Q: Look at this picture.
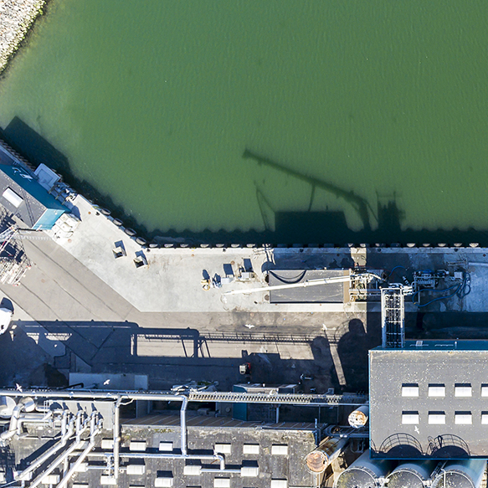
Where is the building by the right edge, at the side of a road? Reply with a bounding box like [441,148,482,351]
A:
[369,339,488,459]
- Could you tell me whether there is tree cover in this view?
No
